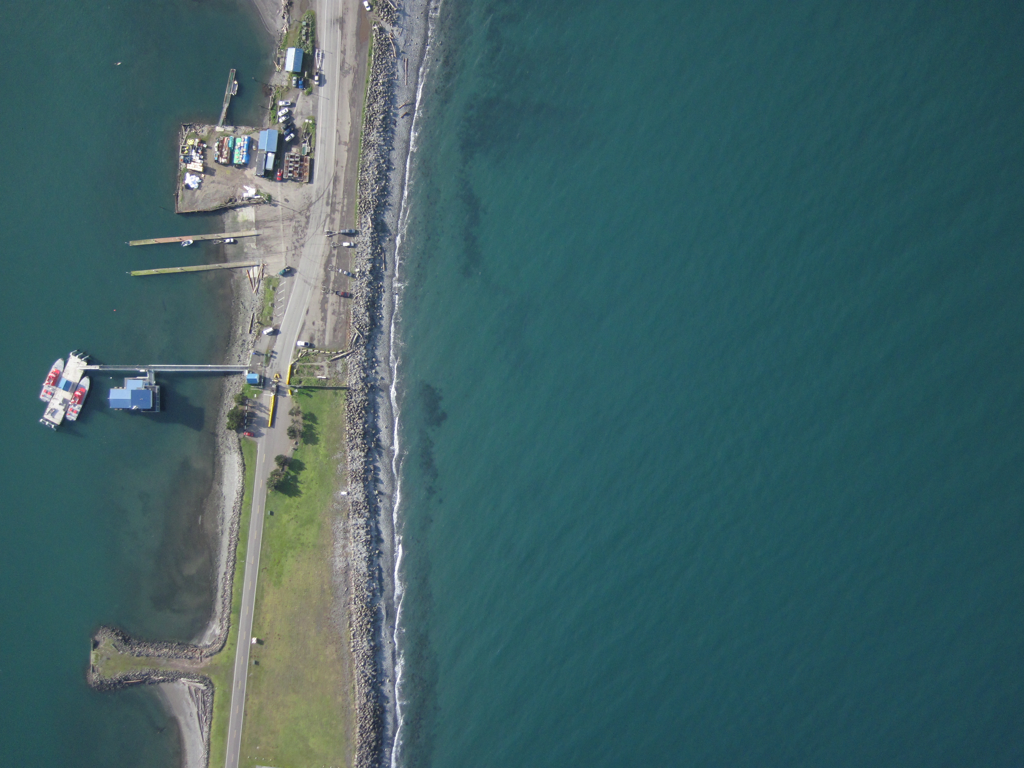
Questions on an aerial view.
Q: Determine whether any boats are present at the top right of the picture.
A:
No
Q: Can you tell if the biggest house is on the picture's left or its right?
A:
left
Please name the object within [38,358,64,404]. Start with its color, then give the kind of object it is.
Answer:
white boat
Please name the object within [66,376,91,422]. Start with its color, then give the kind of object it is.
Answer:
white boat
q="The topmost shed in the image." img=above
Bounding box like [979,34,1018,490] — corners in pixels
[285,48,305,74]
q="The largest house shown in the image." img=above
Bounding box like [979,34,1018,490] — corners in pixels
[108,378,160,412]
